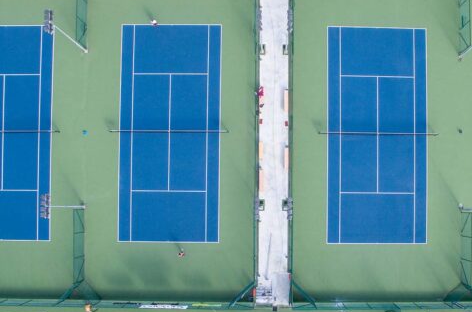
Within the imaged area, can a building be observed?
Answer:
No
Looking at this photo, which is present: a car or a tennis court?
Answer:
tennis court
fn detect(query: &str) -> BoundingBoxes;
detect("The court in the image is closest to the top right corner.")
[326,26,427,244]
